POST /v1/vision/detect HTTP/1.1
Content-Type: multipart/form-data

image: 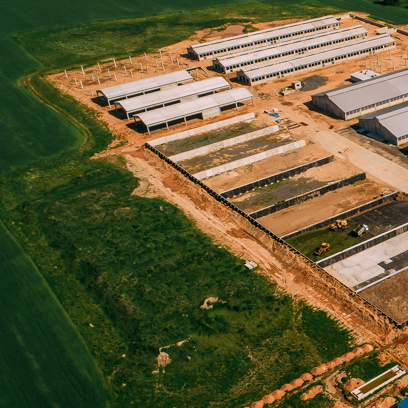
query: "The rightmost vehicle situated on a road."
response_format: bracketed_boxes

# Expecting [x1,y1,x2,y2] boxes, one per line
[353,223,371,236]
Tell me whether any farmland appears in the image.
Yes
